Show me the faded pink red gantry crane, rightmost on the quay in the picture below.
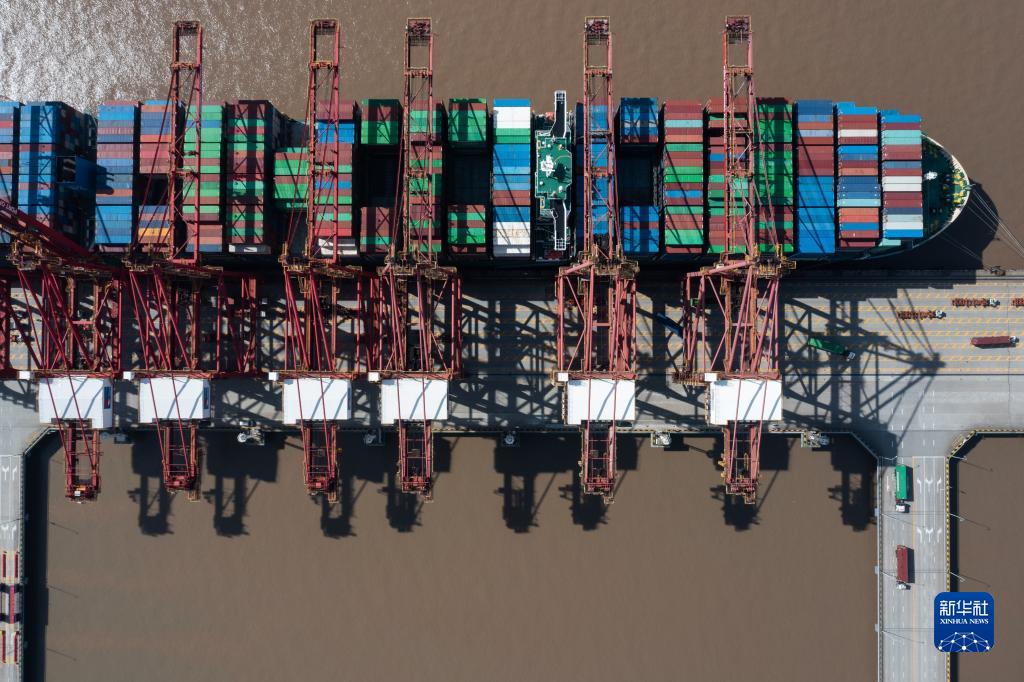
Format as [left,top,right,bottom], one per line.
[655,16,800,507]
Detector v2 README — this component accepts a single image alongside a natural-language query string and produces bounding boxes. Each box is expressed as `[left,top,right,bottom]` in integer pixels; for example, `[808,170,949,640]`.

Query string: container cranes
[537,16,643,507]
[655,16,800,507]
[0,189,185,507]
[0,261,104,379]
[367,16,480,507]
[118,22,285,506]
[265,22,389,506]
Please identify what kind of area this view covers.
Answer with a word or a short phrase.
port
